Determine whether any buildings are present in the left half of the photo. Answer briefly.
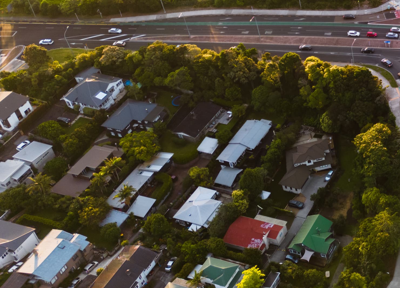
Yes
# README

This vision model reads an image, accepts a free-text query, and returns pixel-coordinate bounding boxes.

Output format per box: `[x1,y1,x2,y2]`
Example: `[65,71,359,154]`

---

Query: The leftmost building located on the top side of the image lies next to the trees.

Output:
[0,94,33,131]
